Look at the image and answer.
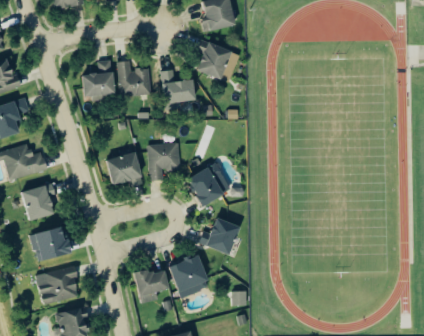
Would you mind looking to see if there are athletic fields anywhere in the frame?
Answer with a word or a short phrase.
Yes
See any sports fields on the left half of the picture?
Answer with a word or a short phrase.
No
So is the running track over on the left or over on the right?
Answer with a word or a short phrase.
right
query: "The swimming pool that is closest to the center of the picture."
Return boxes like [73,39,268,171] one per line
[217,156,241,184]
